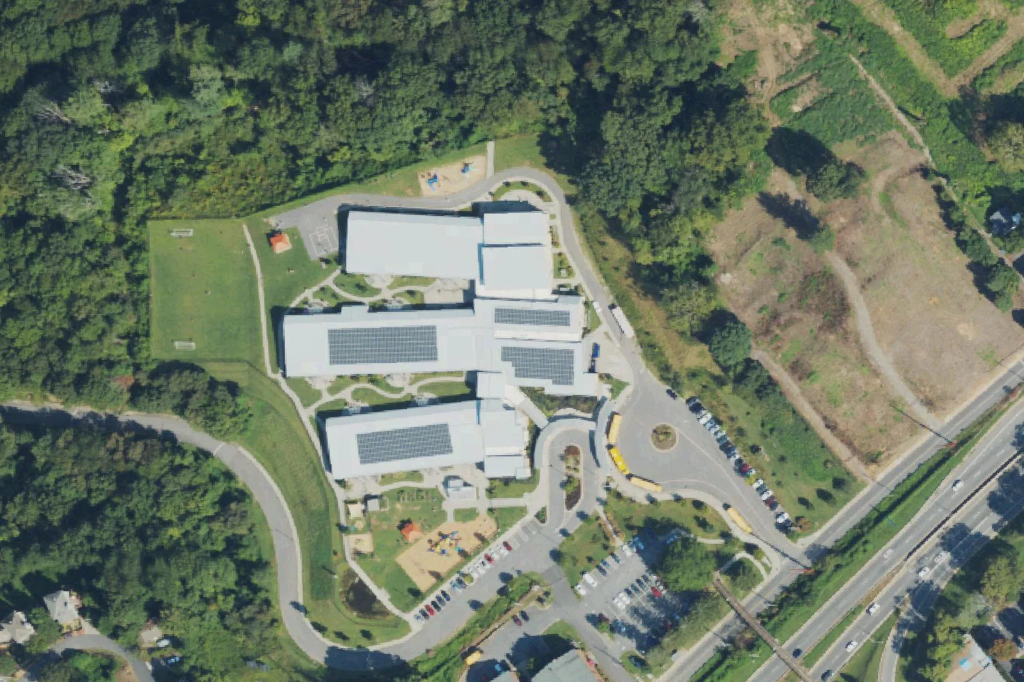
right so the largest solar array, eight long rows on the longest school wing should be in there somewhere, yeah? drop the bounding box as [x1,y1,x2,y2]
[328,326,438,364]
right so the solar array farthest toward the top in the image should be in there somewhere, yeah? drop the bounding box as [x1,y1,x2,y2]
[495,307,570,326]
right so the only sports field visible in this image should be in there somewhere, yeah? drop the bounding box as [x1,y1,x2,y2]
[151,219,261,359]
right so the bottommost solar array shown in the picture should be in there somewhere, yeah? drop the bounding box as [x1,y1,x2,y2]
[357,423,453,464]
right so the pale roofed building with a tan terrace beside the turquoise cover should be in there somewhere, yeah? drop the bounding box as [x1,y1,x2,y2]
[949,634,1011,682]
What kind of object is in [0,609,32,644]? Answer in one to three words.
house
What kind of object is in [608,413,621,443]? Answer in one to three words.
vehicle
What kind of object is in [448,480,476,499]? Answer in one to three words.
shed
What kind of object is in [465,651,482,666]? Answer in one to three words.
vehicle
